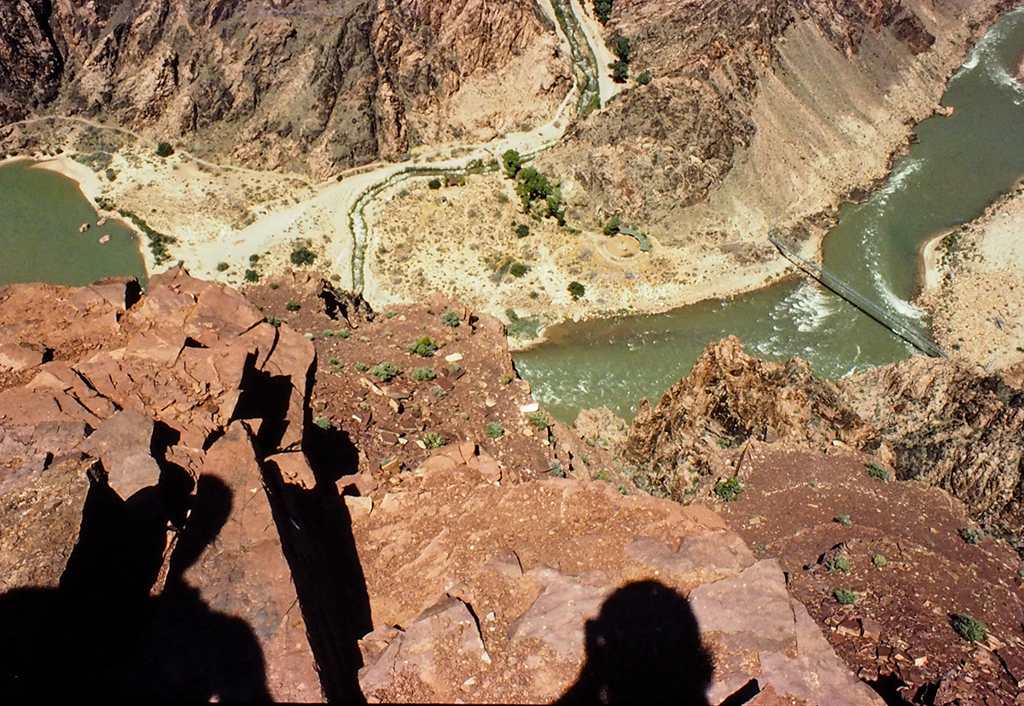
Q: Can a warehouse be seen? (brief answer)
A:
No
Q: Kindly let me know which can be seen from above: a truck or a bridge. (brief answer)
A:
bridge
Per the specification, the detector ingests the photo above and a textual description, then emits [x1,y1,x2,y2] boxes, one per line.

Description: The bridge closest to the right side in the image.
[750,220,967,360]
